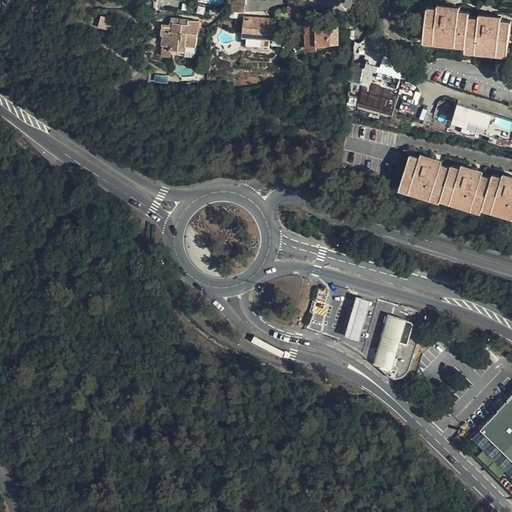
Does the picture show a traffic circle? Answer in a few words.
Yes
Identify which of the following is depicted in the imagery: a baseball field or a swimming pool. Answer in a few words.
swimming pool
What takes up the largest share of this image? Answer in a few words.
trees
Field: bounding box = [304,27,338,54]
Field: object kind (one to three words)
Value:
house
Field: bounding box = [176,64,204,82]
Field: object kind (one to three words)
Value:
swimming pool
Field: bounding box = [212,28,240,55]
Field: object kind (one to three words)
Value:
swimming pool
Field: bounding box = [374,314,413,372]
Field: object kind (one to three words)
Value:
building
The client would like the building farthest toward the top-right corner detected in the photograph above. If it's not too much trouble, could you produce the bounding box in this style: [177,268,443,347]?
[420,6,512,60]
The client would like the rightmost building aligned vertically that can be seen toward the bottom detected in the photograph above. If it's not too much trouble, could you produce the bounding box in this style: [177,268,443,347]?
[472,395,512,483]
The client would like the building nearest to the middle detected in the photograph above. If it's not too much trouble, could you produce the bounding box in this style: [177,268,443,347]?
[345,296,372,342]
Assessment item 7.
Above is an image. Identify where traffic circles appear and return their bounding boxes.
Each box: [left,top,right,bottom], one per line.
[164,182,280,297]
